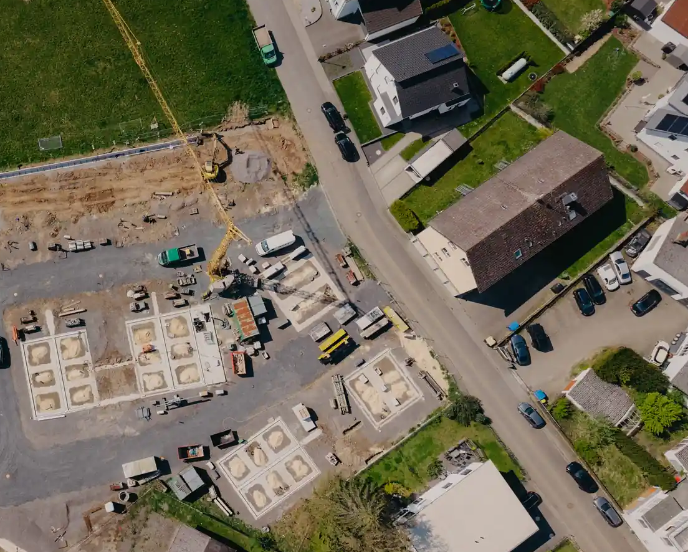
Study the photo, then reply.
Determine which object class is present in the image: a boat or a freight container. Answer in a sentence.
This aerial view contains a freight container.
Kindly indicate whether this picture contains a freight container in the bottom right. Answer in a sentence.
No, no freight container can be made out in the bottom right.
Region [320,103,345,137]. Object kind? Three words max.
car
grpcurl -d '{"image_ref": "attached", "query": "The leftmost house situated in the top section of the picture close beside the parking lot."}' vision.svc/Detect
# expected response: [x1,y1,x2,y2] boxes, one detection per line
[418,129,614,295]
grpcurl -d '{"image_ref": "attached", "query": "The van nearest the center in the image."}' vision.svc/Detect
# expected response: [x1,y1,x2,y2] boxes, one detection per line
[252,229,297,258]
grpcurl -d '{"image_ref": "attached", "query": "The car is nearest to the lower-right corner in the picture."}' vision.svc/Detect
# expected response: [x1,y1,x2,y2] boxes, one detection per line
[589,494,620,529]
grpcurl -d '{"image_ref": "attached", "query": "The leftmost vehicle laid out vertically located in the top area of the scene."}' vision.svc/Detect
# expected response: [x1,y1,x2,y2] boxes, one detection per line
[202,134,220,185]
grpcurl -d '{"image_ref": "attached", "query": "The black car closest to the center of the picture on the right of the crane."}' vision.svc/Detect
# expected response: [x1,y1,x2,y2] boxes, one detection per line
[333,133,358,164]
